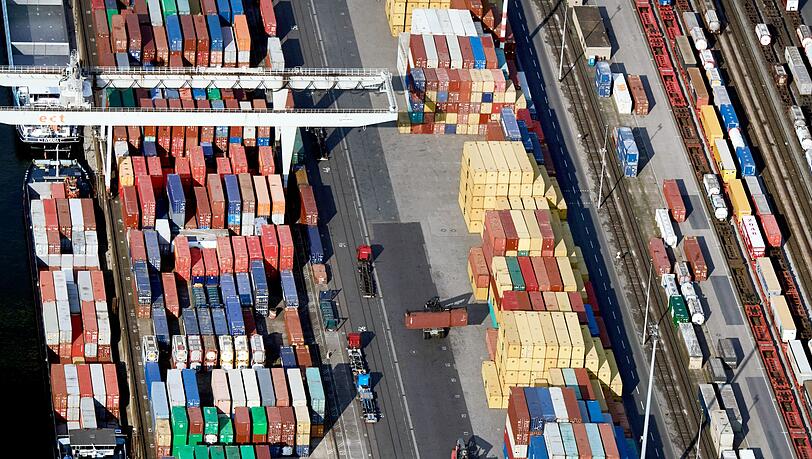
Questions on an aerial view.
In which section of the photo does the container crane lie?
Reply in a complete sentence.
The container crane is in the top left part of the image.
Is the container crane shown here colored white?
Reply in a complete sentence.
Yes, the container crane is white.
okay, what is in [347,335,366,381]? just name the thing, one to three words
vehicle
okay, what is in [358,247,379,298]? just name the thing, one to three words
vehicle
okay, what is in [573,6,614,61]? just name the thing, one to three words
building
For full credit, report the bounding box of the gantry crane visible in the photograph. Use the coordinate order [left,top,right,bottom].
[0,48,399,193]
